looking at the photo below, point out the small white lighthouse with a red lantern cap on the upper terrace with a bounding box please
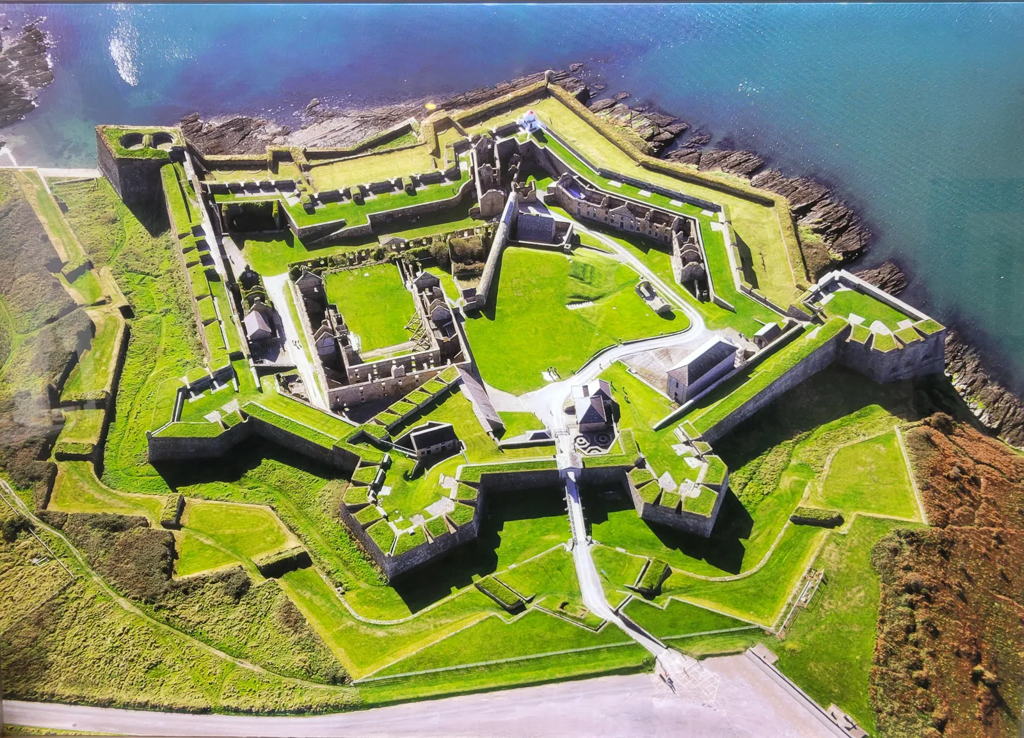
[517,109,547,139]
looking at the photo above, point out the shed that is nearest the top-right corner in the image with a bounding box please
[751,321,783,347]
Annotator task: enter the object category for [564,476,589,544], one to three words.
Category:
bridge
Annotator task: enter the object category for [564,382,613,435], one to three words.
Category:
building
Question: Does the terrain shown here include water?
Yes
